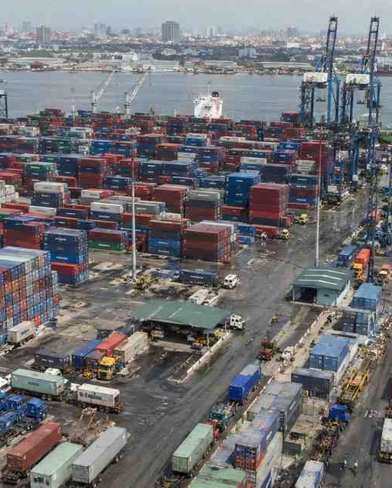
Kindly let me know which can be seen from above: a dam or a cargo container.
cargo container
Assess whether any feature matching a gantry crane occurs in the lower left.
No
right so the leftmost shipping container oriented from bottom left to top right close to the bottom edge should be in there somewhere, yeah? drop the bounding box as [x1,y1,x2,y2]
[13,422,61,474]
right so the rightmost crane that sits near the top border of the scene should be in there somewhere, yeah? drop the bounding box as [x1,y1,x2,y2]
[340,11,386,155]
